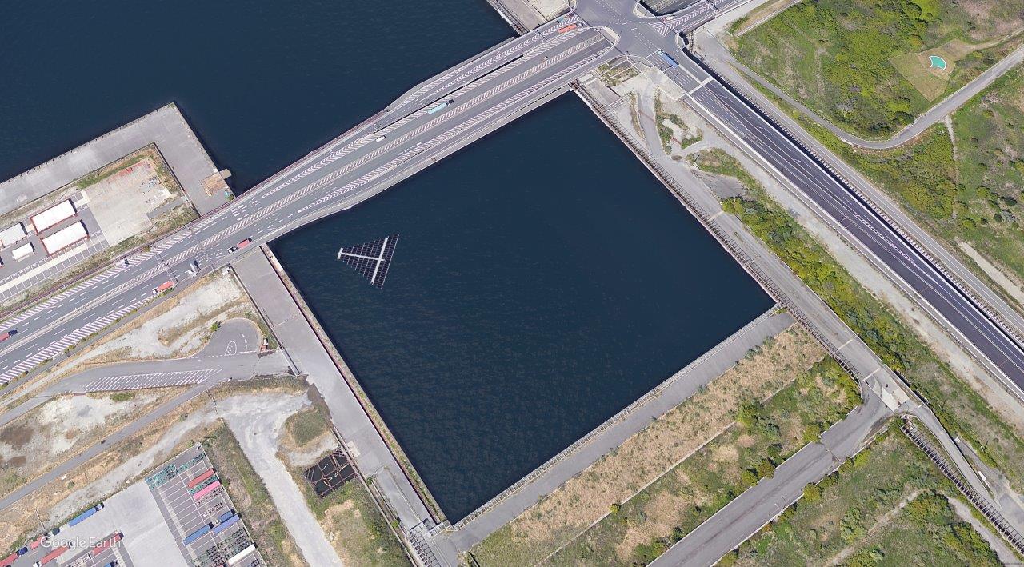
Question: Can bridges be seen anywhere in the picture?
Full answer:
Yes, there's a bridge here.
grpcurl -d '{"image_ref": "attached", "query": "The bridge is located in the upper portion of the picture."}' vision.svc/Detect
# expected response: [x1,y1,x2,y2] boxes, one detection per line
[219,10,626,244]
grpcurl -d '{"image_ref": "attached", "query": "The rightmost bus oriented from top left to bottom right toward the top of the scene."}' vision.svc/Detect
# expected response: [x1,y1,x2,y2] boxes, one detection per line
[657,51,679,71]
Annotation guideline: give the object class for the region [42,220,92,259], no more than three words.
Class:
building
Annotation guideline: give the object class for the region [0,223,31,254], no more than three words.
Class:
building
